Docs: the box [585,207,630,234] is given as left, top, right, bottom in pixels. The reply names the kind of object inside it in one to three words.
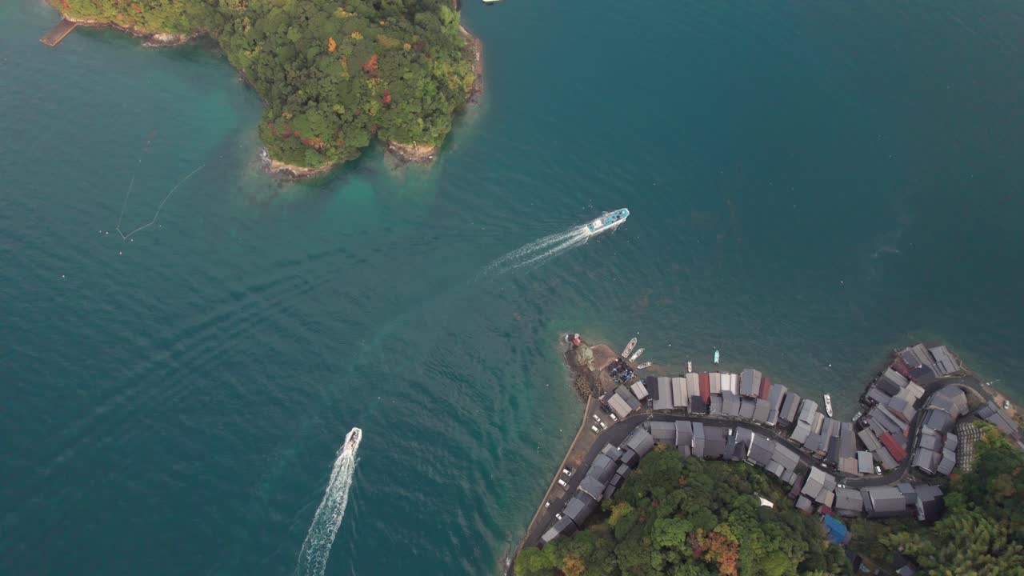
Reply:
boat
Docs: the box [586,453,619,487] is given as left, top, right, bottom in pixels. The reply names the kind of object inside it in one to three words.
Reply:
house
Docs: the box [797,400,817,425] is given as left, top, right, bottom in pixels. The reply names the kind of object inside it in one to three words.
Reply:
building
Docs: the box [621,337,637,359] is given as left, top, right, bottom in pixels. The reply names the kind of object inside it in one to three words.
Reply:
boat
